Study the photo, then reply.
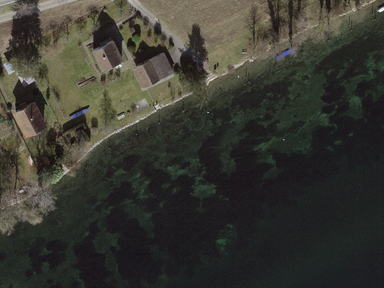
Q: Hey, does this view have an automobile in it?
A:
No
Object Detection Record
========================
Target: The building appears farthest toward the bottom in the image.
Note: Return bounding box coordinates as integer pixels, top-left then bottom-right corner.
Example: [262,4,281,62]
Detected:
[65,126,91,146]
